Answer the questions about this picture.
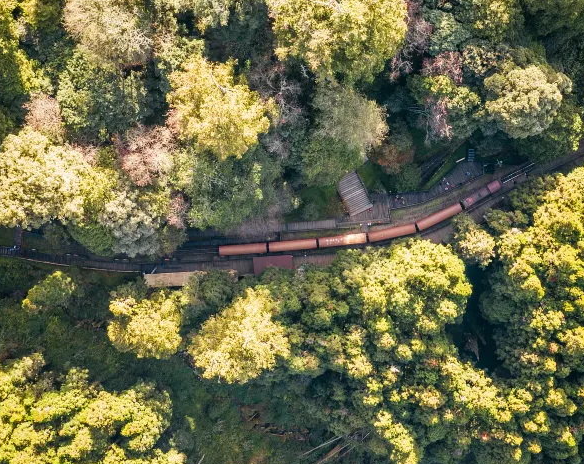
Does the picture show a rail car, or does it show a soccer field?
rail car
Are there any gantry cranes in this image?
No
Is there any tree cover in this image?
Yes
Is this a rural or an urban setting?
rural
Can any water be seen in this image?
No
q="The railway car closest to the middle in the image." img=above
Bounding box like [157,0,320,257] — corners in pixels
[270,235,318,252]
